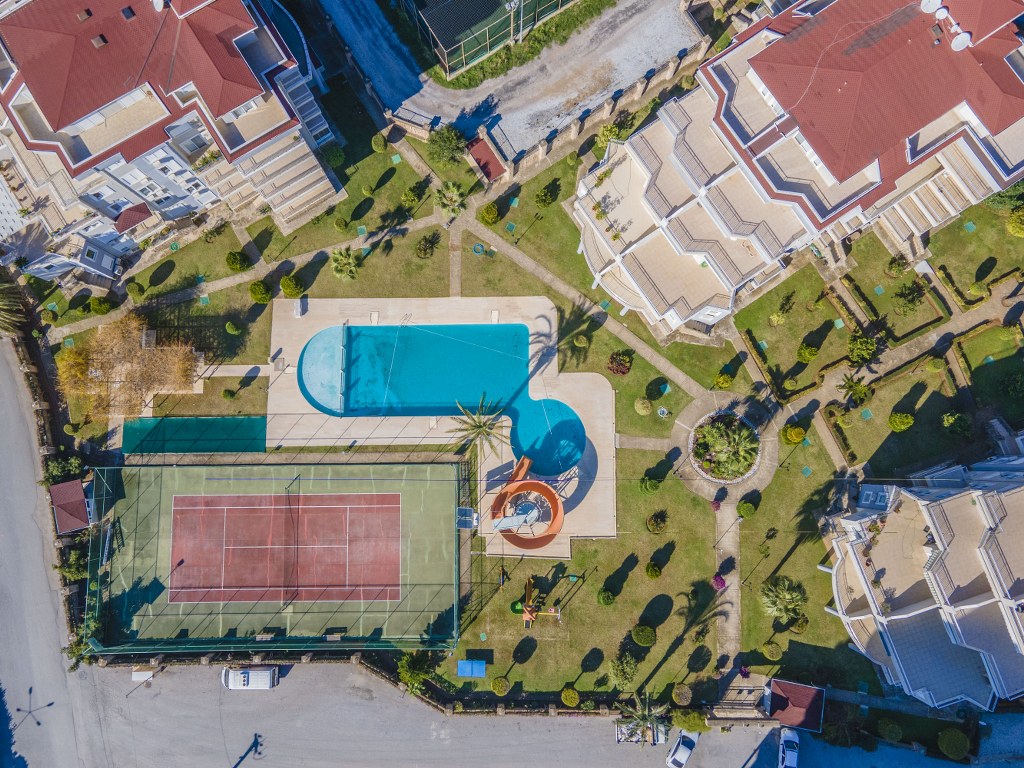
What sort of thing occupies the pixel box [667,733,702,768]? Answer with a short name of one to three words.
car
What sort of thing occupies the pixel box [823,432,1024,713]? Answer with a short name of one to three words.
building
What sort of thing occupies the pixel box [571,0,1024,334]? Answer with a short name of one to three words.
building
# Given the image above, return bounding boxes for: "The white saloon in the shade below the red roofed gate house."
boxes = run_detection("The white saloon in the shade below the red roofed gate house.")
[778,732,802,768]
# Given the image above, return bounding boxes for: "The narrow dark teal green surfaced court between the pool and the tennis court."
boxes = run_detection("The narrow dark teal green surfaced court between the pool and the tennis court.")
[122,416,267,454]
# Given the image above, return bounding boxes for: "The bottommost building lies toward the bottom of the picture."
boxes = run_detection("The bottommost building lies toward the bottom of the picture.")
[762,676,826,733]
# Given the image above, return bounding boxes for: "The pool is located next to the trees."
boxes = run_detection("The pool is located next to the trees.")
[267,296,616,558]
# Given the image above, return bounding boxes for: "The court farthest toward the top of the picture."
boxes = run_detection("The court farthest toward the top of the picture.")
[400,0,574,79]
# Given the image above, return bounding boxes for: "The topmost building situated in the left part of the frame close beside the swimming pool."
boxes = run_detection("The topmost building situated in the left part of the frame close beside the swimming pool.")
[0,0,341,277]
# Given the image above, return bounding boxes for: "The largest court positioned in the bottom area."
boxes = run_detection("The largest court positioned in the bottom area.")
[84,462,460,654]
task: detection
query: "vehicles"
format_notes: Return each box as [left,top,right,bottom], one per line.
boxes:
[223,667,281,692]
[616,722,663,744]
[778,732,802,768]
[667,733,702,768]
